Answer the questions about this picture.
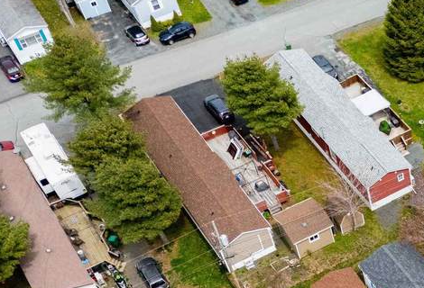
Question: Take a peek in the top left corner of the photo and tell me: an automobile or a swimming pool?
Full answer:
Visible in the top left corner of the photo is an automobile.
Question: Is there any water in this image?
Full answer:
No, there is no water in the image.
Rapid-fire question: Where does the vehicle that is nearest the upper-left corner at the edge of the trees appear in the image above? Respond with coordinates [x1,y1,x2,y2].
[0,55,26,83]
